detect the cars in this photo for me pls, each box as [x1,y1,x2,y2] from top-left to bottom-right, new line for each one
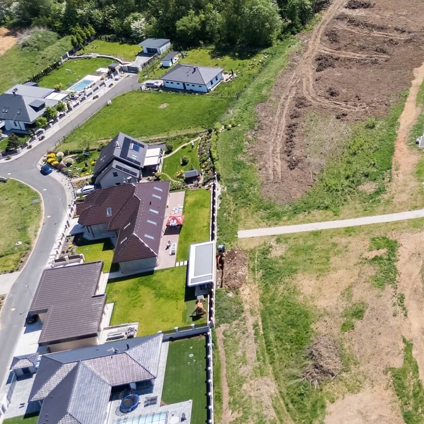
[144,78,163,87]
[15,313,41,326]
[36,164,56,174]
[74,184,97,196]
